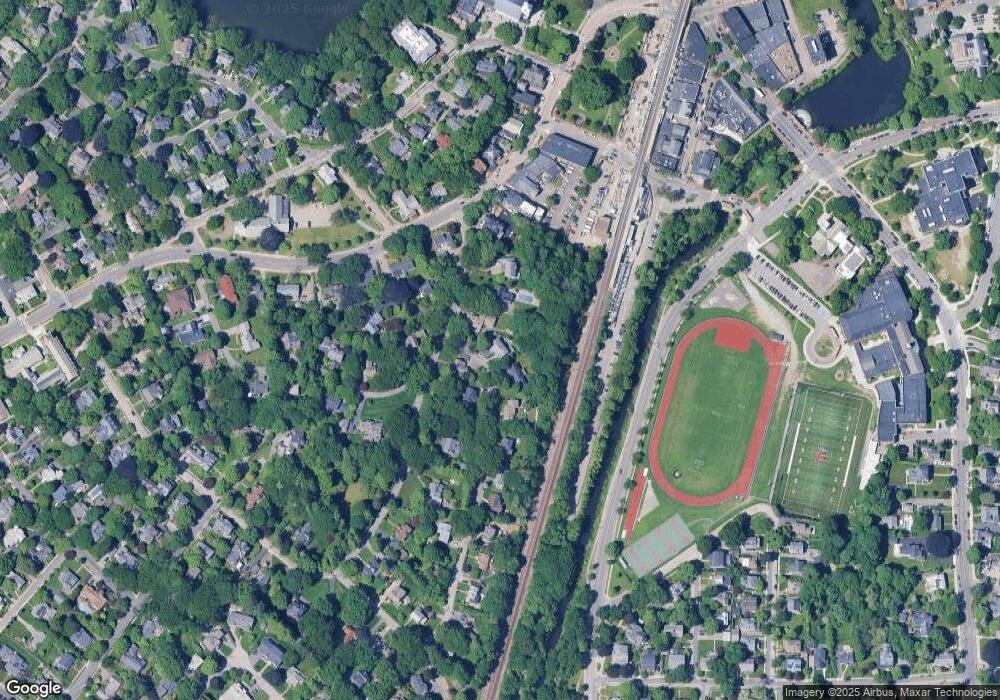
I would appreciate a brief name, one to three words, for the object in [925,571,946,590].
house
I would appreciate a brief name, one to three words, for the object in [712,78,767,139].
building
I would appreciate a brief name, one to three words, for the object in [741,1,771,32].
building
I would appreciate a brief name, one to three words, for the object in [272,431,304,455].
house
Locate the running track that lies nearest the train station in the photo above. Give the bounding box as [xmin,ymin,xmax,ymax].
[646,317,787,507]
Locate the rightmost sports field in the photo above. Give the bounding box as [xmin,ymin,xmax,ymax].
[771,380,871,519]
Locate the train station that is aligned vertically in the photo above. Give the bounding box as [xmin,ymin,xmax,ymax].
[604,168,653,292]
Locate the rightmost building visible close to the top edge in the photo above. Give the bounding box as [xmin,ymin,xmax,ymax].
[951,30,989,75]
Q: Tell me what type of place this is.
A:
residential area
